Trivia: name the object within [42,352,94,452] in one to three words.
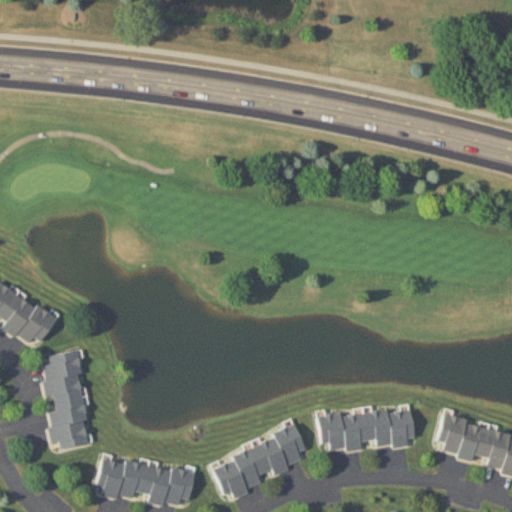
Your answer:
house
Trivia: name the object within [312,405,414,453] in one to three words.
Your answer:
house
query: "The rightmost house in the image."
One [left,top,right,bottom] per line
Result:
[434,412,512,478]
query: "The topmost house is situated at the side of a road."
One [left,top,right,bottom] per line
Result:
[0,282,58,346]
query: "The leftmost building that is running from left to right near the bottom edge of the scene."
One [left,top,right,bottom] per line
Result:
[96,455,190,508]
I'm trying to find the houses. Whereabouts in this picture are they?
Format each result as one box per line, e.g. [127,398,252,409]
[0,282,58,346]
[96,455,190,508]
[434,412,512,478]
[312,405,414,453]
[42,352,94,452]
[204,422,300,498]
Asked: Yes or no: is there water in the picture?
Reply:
Yes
